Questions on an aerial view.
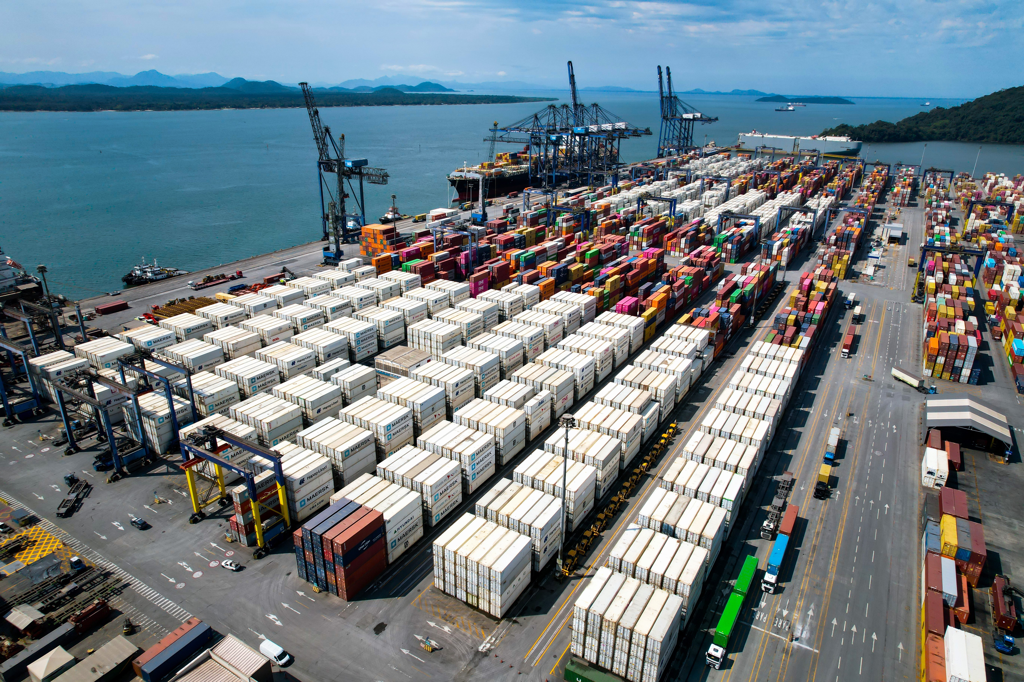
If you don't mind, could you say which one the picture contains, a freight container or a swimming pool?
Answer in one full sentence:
Visible in the photo is a freight container.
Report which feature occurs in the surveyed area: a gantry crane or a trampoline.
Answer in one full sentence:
The image shows a gantry crane.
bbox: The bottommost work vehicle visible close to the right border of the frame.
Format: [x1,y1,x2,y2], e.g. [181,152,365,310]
[994,633,1013,657]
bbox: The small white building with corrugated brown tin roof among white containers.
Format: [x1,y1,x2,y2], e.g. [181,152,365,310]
[372,346,433,378]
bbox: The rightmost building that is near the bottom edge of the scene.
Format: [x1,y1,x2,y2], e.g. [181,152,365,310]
[163,631,260,682]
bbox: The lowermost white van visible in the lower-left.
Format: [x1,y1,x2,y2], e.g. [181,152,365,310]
[261,638,294,672]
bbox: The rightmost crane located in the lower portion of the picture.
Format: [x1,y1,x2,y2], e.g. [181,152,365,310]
[168,417,301,560]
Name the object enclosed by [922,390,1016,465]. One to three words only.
shed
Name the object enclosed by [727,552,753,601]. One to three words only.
shipping container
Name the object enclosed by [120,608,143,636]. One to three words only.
work vehicle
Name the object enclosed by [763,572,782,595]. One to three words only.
vehicle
